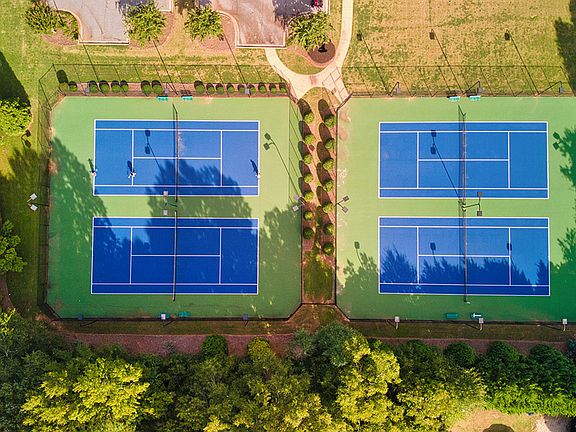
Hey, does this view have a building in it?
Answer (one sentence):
No, no building is visible in the scene.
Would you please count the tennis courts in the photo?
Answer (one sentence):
In total, there are 4 tennis courts in the scene.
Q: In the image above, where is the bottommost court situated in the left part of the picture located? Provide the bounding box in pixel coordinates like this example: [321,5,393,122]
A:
[91,217,259,295]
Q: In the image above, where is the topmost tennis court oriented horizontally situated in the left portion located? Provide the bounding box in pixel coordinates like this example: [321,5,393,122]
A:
[93,119,260,197]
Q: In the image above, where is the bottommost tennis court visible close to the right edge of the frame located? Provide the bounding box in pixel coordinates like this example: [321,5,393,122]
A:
[379,216,550,296]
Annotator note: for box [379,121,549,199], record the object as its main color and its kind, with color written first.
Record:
blue tennis court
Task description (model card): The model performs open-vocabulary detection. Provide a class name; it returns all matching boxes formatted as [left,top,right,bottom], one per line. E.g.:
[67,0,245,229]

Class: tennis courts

[379,216,550,296]
[379,121,549,199]
[93,119,260,197]
[91,217,259,295]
